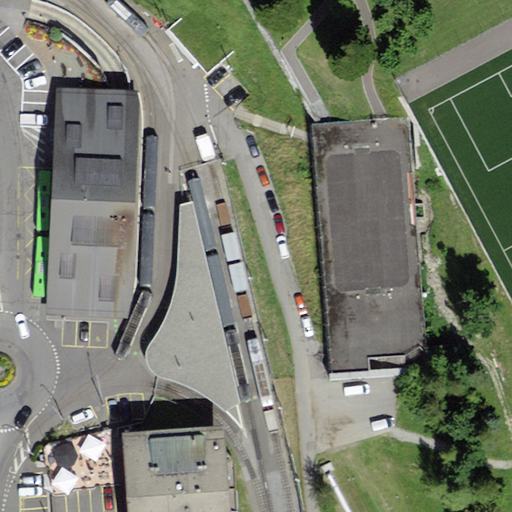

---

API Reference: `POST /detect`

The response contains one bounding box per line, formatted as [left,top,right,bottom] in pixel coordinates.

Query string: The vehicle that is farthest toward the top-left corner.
[2,37,23,56]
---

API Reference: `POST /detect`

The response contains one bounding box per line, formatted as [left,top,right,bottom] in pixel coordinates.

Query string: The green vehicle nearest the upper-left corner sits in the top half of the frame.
[34,170,48,233]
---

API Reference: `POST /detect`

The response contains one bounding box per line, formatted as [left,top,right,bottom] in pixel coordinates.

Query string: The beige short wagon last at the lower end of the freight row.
[264,408,280,432]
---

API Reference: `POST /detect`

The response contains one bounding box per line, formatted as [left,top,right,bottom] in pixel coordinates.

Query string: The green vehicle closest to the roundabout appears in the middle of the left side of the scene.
[32,236,47,298]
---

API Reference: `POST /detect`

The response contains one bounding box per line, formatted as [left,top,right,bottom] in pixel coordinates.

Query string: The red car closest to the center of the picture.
[273,214,285,235]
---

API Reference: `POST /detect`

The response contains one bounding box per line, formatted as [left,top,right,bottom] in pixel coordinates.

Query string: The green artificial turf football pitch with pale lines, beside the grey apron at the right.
[407,49,512,302]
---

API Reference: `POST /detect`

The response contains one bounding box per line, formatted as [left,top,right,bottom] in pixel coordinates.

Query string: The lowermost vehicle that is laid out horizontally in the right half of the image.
[369,416,396,431]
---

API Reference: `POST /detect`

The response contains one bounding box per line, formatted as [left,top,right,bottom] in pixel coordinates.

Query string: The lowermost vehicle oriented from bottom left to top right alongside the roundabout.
[14,406,32,428]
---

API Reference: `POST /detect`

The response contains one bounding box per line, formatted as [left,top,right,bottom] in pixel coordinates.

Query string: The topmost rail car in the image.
[104,0,148,36]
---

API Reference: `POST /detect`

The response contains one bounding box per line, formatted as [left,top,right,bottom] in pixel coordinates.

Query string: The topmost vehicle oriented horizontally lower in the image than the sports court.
[343,382,370,394]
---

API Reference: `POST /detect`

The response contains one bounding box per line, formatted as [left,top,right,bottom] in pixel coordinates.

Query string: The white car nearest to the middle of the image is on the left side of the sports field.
[276,235,289,259]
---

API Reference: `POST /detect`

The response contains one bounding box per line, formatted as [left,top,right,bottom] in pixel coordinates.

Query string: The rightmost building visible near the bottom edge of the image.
[120,427,237,512]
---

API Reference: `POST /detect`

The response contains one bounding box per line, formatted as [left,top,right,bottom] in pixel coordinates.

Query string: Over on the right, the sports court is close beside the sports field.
[326,148,410,296]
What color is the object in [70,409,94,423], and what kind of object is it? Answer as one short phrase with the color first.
white car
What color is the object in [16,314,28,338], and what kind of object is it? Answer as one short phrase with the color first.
white vehicle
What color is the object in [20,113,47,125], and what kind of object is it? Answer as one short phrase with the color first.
white vehicle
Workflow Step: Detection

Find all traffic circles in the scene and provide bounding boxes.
[0,335,33,407]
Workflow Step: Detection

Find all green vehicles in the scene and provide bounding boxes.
[34,170,48,233]
[32,236,47,298]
